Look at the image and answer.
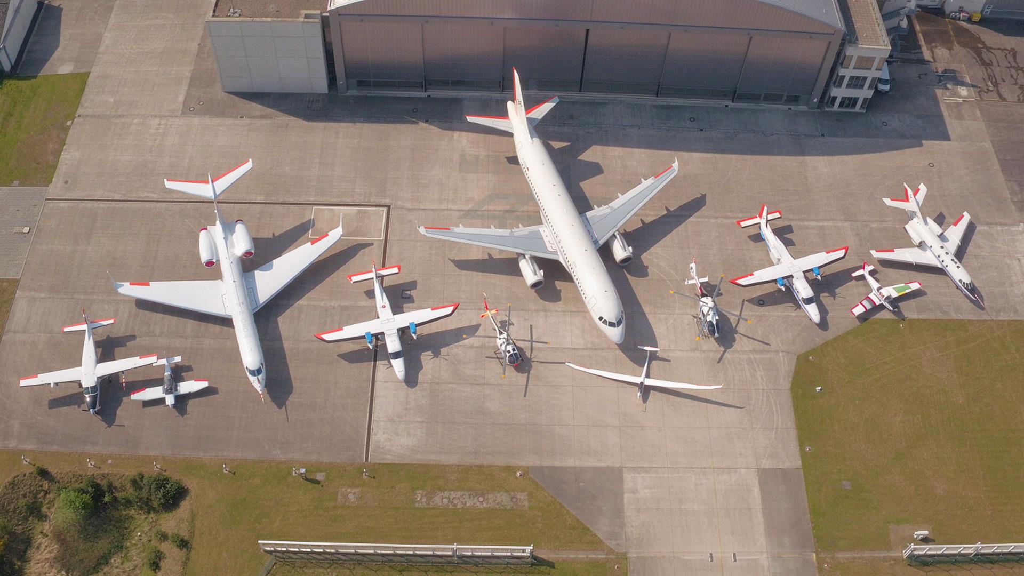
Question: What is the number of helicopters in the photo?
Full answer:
I count 2 helicopters.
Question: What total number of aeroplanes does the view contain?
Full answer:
There are 9 aeroplanes in the image.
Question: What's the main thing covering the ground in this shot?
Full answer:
The bulk of the photo consists of paved ground.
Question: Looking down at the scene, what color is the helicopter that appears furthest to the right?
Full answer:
From above, the helicopter that appears furthest to the right appears white.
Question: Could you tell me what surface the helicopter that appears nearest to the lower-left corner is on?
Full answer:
From above, the helicopter that appears nearest to the lower-left corner can be seen on the apron.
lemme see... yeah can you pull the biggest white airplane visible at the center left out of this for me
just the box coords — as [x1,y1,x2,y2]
[105,162,340,403]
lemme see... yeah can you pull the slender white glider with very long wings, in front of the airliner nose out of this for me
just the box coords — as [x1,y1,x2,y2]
[566,345,721,402]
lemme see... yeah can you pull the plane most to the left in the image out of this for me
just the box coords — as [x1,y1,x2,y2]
[18,306,158,417]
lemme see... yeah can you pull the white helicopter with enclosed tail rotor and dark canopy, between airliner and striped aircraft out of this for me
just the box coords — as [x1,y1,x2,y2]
[670,256,751,339]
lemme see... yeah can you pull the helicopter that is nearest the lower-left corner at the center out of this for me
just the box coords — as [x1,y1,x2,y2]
[466,295,551,377]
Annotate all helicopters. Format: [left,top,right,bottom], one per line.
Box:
[466,295,551,377]
[670,256,751,339]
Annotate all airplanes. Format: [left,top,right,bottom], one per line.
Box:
[725,199,850,324]
[566,345,721,402]
[866,183,983,311]
[105,162,340,403]
[314,257,459,382]
[130,355,208,408]
[422,66,680,345]
[18,306,158,417]
[850,262,922,315]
